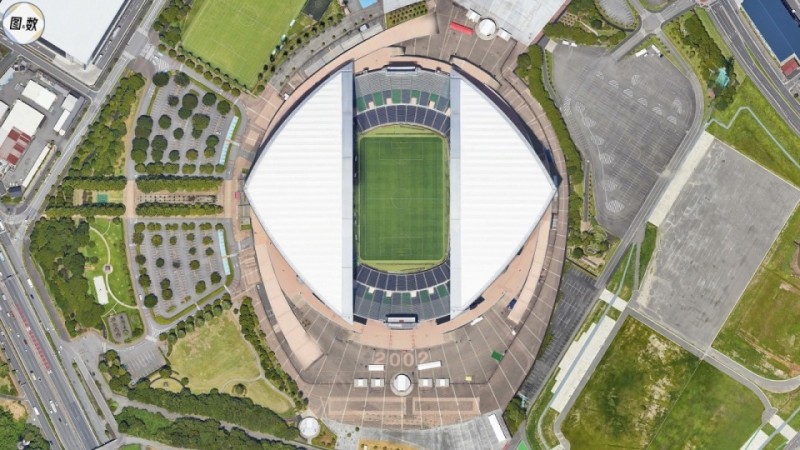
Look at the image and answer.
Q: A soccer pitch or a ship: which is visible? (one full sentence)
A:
There is a soccer pitch in the scene.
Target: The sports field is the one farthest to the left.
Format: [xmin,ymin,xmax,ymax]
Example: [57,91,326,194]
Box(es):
[182,0,306,88]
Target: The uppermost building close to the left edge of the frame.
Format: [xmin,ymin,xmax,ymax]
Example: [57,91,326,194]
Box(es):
[0,0,132,70]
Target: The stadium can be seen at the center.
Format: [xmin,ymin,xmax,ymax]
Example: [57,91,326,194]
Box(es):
[245,62,557,328]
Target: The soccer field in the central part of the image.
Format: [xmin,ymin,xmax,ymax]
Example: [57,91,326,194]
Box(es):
[359,137,444,260]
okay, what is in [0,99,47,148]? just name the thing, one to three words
building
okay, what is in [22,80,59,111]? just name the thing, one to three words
building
